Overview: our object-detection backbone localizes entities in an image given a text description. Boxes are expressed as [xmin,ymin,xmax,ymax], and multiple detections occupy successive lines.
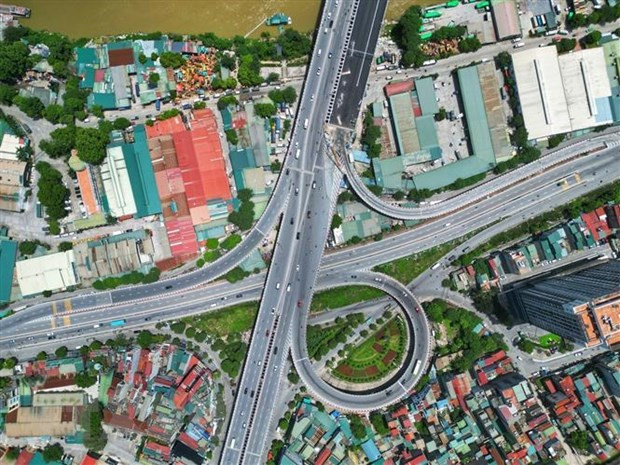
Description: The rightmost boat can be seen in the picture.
[265,11,292,24]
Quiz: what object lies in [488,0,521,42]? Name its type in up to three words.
building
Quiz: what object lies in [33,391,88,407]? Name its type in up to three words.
building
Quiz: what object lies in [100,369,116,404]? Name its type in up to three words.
house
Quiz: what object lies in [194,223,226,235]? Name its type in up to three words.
shed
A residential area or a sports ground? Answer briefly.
residential area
